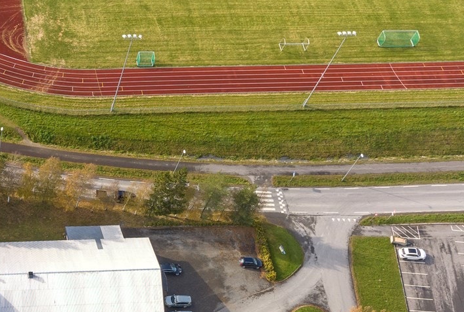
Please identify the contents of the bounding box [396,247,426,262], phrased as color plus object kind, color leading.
white car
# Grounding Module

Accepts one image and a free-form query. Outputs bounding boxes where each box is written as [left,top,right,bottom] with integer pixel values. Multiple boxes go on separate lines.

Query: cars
[396,247,426,262]
[113,190,139,204]
[237,258,263,270]
[163,296,193,309]
[160,264,185,278]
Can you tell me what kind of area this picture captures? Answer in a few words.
sports ground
